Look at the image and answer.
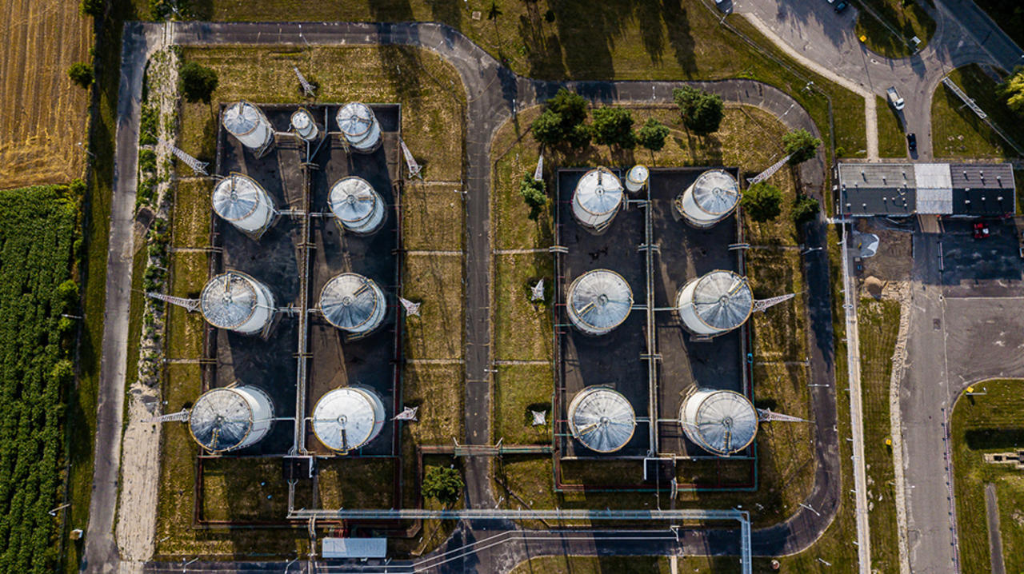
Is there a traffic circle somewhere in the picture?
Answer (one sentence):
No, I find no traffic circle anywhere in the image.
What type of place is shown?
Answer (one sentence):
It's an industrial area.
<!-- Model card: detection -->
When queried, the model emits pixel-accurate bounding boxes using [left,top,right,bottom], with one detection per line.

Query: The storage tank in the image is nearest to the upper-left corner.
[221,96,277,154]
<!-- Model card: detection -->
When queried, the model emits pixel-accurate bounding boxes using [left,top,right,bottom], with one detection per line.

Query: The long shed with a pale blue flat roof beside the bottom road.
[321,535,388,560]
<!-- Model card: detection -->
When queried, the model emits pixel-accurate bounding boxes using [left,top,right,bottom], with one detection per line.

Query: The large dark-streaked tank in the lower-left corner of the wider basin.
[186,386,274,457]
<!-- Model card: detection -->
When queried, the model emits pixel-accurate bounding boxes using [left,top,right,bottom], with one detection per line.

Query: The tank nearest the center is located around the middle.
[567,269,635,335]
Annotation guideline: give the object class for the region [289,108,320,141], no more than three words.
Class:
storage tank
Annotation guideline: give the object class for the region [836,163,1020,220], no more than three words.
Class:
building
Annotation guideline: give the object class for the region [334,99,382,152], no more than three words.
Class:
storage tank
